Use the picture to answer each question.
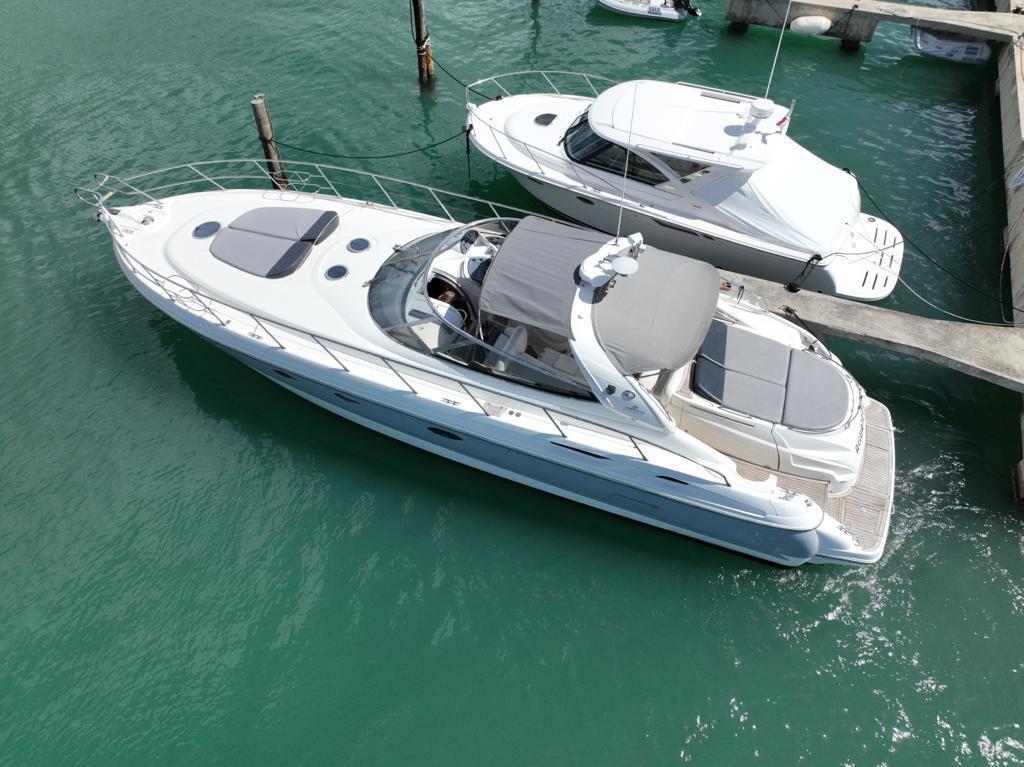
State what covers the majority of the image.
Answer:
water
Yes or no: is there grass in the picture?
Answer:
No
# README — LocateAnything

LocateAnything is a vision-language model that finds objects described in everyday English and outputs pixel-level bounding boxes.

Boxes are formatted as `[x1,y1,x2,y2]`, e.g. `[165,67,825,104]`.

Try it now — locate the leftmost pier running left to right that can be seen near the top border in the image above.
[726,0,1012,52]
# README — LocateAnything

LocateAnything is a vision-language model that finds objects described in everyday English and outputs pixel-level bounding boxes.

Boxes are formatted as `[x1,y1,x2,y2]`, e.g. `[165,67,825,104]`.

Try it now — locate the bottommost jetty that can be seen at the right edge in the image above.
[707,272,1024,401]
